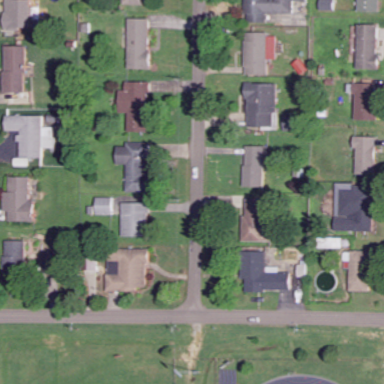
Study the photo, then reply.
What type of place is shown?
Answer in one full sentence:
This looks like a residential area.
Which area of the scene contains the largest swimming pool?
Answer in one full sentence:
The largest swimming pool sits in the bottom right section of the image.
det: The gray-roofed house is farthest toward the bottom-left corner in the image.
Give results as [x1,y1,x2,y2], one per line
[2,240,25,272]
